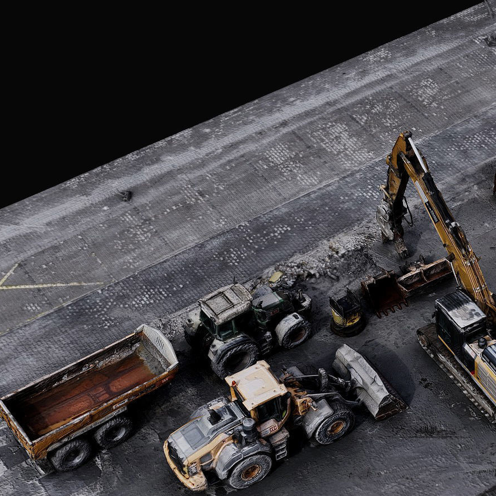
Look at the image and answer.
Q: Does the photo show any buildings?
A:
No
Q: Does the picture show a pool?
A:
No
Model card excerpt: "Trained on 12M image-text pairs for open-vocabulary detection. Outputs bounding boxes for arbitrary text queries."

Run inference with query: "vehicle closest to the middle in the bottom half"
[189,280,318,378]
